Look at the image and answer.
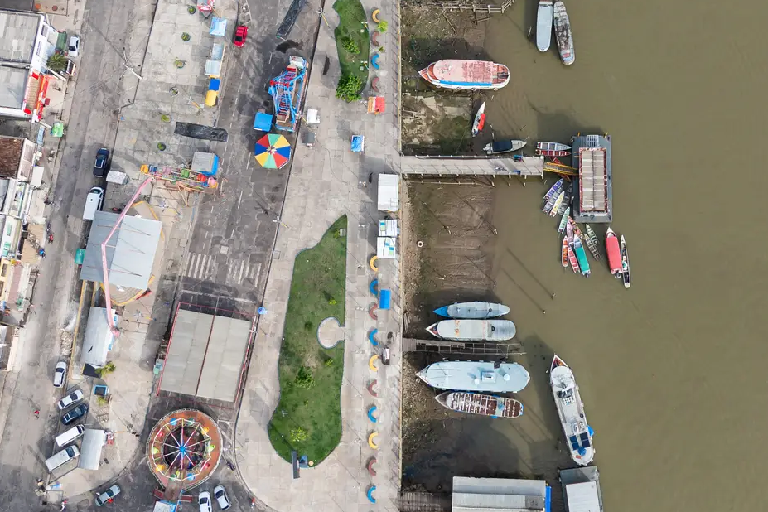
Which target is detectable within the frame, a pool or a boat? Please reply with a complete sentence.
I can see a boat in this picture.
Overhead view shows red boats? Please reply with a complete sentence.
Yes, there's a red boat down there.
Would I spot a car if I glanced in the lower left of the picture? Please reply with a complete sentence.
Yes, in the lower left of the picture there is a car.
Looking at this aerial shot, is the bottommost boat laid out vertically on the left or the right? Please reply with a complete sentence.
The bottommost boat laid out vertically appears in the right half of the scene.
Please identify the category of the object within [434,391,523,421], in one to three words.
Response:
boat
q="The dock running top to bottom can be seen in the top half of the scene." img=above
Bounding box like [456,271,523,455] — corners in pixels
[573,136,613,223]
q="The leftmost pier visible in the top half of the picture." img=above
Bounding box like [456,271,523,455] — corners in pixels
[401,156,544,179]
